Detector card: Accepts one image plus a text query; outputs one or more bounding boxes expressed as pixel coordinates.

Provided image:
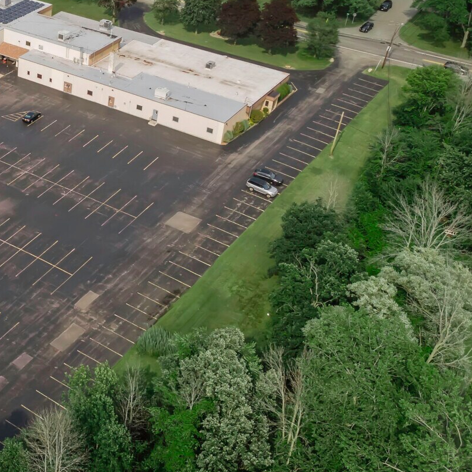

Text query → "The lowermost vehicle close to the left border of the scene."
[19,107,40,123]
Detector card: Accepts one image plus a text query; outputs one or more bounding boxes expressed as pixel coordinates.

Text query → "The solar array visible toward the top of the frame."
[0,0,44,23]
